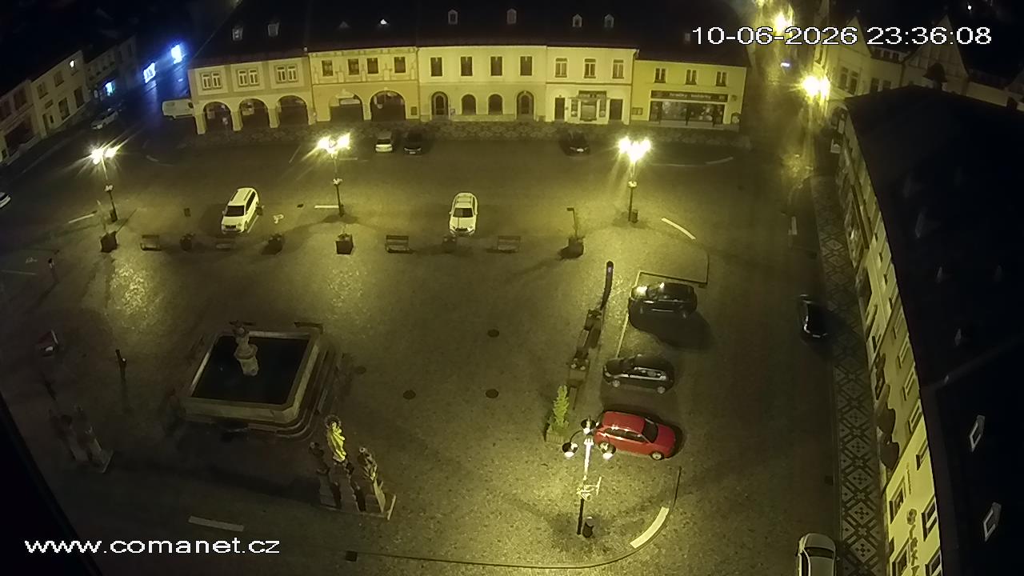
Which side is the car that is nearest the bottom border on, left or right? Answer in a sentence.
It is on the right.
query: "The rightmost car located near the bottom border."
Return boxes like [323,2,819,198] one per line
[795,540,852,576]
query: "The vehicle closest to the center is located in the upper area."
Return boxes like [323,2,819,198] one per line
[449,193,479,233]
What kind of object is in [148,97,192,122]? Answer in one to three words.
vehicle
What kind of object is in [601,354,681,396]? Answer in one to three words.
car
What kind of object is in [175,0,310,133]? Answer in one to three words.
house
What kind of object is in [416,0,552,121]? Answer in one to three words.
house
